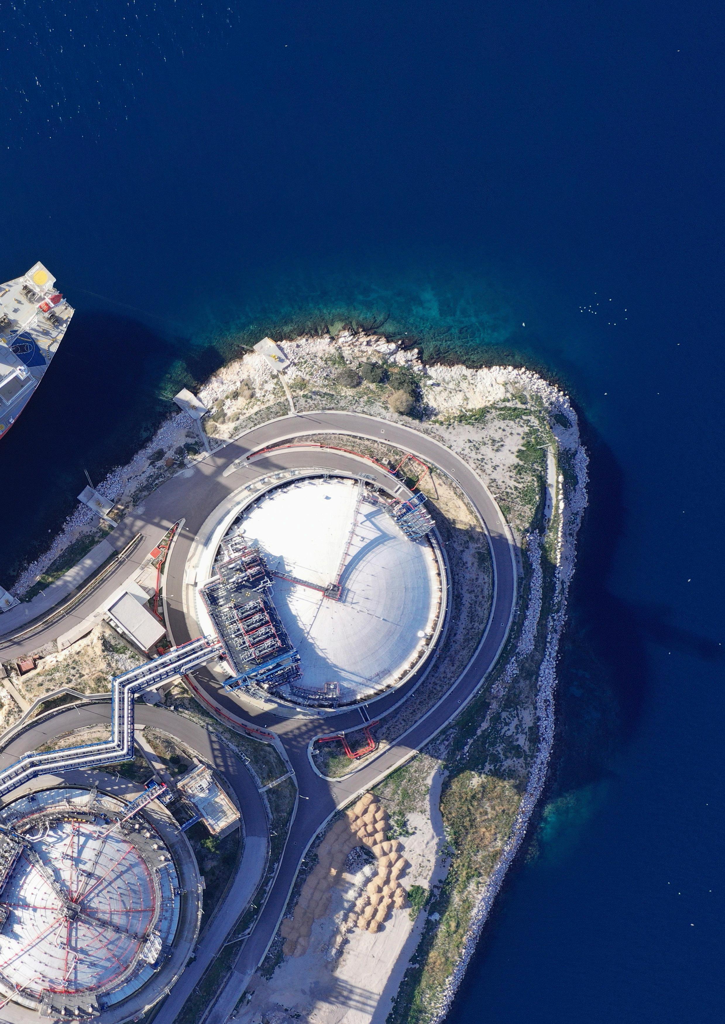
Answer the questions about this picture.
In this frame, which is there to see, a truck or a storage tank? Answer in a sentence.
Of the two, only a storage tank appears.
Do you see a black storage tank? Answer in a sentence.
No, I find no black storage tank anywhere in the image.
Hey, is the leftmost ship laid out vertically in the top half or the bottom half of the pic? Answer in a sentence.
Seen from above, the leftmost ship laid out vertically lies in the top half of the view.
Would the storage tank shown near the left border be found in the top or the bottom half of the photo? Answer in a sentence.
Seen from above, the storage tank shown near the left border lies in the bottom half of the view.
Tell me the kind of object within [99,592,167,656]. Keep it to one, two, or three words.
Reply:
building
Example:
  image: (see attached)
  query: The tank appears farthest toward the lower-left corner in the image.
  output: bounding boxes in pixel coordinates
[0,774,194,1024]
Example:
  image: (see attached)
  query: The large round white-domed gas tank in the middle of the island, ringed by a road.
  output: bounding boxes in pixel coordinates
[183,466,450,717]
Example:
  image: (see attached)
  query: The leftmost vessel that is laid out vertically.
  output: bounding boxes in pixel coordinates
[0,261,75,436]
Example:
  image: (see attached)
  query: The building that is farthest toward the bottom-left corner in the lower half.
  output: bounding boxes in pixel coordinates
[167,758,242,839]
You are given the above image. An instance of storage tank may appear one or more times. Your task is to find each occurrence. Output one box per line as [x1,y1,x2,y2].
[0,774,194,1024]
[183,466,450,717]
